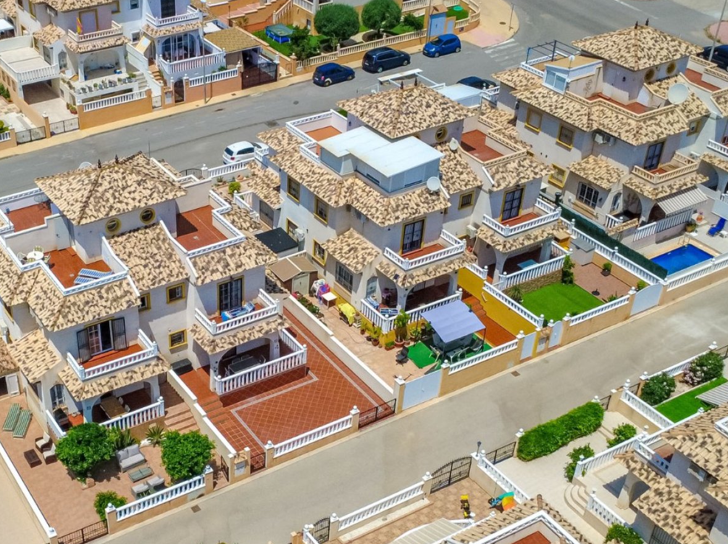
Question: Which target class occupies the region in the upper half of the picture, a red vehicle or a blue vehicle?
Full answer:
The feature located in the upper half of the picture is a blue vehicle.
